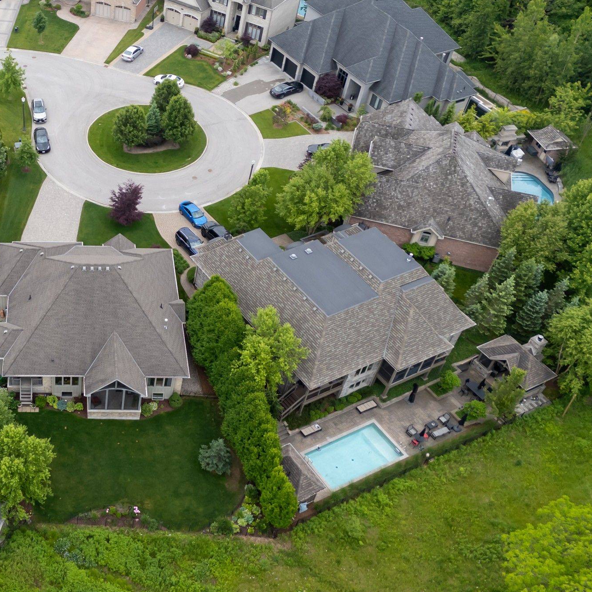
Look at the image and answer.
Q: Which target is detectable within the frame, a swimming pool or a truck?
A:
swimming pool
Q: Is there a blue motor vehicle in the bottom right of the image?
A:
No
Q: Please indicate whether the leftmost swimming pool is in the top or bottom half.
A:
bottom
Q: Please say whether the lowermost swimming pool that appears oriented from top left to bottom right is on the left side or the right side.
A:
right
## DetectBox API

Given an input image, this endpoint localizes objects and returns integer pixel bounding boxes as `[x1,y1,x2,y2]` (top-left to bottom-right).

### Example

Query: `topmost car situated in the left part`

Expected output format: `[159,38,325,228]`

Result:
[122,42,148,60]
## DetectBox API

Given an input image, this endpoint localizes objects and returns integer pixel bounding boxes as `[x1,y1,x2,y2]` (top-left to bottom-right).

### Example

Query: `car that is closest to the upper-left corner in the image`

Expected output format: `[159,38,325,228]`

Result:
[32,94,47,120]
